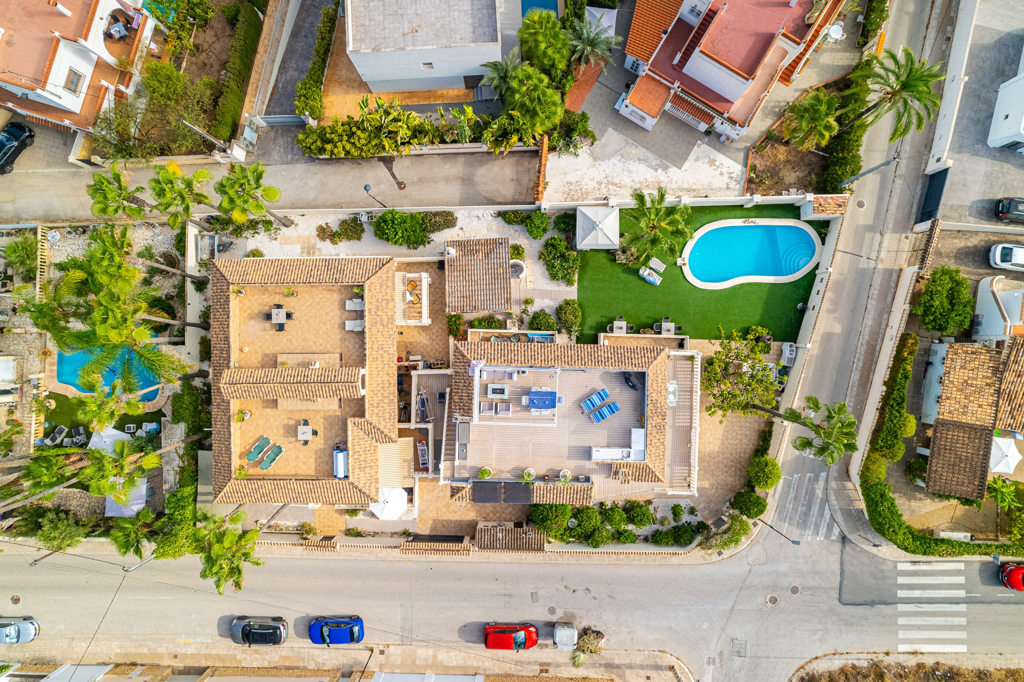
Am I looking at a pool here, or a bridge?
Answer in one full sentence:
Looking from above, you can make out a pool.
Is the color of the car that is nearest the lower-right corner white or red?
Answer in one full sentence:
The color of the car that is nearest the lower-right corner is red.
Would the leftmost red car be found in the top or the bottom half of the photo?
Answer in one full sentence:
You can find the leftmost red car in the bottom half.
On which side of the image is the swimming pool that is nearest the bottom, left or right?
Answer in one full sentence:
The swimming pool that is nearest the bottom appears in the left half of the scene.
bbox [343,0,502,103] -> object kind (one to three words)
house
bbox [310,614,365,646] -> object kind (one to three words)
car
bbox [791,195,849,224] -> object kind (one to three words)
building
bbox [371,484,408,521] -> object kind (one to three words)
umbrella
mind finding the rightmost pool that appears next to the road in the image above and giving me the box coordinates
[681,218,823,289]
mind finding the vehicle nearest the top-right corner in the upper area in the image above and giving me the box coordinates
[989,198,1024,224]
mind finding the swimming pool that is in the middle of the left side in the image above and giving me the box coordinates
[48,324,170,411]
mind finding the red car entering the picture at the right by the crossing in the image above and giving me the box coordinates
[997,563,1024,594]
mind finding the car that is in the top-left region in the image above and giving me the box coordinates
[0,119,34,175]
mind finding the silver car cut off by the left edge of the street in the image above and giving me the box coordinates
[0,615,37,646]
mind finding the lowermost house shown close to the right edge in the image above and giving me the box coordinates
[907,333,1024,501]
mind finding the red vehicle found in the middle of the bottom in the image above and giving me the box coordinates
[483,620,538,652]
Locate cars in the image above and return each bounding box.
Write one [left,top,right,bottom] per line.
[989,198,1024,224]
[984,245,1024,270]
[310,614,365,646]
[0,119,34,175]
[0,615,37,646]
[483,620,538,652]
[232,614,291,647]
[997,563,1024,594]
